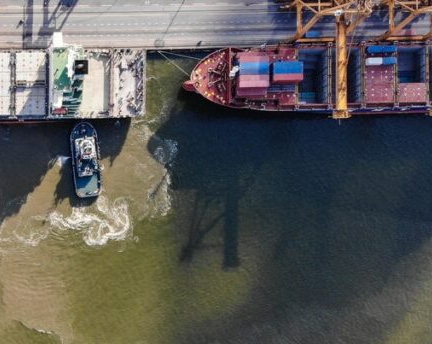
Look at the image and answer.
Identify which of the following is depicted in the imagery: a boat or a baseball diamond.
boat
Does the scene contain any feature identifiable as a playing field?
No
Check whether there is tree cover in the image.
No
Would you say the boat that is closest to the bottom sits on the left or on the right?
left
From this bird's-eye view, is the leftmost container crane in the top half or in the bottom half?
top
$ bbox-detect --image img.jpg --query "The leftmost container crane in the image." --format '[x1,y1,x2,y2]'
[276,0,368,126]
